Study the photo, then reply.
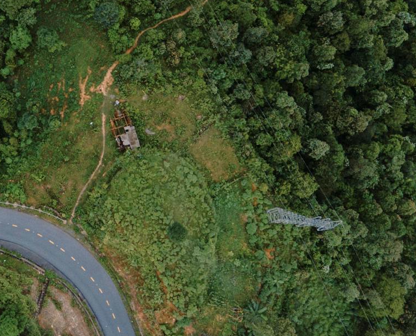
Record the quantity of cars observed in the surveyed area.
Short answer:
zero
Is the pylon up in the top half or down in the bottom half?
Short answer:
bottom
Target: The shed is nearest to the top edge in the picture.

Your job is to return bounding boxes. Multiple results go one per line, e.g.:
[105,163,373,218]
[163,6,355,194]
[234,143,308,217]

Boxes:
[106,111,140,152]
